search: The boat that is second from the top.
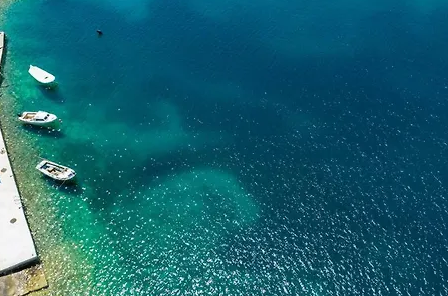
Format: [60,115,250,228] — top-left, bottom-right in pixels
[5,109,66,125]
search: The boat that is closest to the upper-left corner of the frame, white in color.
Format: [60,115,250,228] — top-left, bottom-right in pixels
[25,62,68,86]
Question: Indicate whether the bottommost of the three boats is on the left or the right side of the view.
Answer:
left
